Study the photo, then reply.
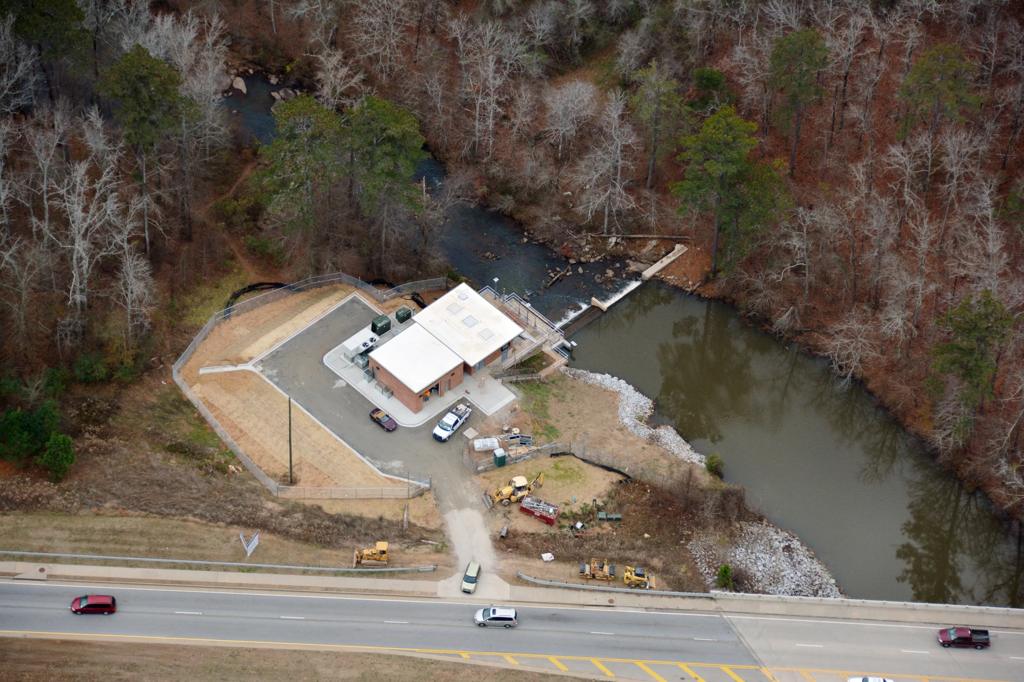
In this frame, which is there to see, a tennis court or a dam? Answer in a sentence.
Looking from above, you can make out a dam.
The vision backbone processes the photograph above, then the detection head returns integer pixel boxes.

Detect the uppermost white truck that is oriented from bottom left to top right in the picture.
[431,402,472,439]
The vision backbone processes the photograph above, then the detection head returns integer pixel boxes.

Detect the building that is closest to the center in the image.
[411,283,525,375]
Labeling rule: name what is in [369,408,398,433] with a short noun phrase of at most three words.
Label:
car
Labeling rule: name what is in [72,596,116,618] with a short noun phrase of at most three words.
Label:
car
